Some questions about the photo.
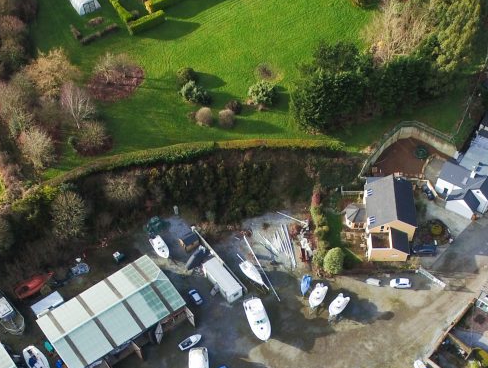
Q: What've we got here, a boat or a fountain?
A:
boat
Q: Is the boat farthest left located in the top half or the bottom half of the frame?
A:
bottom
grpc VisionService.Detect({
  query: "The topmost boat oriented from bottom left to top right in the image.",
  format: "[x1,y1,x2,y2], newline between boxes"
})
[184,246,210,272]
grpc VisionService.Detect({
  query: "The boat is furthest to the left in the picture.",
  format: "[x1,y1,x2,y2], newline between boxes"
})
[0,288,24,335]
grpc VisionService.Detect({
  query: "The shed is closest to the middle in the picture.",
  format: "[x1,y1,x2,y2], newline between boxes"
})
[179,232,201,253]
